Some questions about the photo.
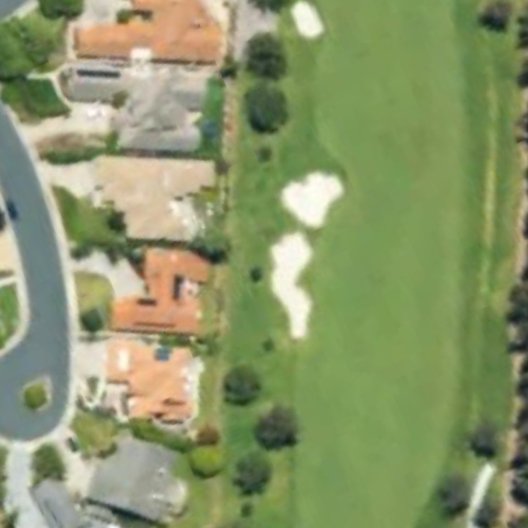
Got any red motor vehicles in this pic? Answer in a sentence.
No, there isn't any red motor vehicle down there.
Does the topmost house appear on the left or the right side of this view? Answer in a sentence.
The topmost house is on the left side of the image.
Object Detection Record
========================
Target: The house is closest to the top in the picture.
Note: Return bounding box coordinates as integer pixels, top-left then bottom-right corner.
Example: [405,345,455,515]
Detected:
[75,0,231,68]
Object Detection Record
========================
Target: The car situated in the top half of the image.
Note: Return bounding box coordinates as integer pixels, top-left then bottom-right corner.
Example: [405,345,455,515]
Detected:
[4,197,21,221]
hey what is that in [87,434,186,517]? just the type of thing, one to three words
house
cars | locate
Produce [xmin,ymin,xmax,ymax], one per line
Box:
[64,435,82,456]
[4,197,21,221]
